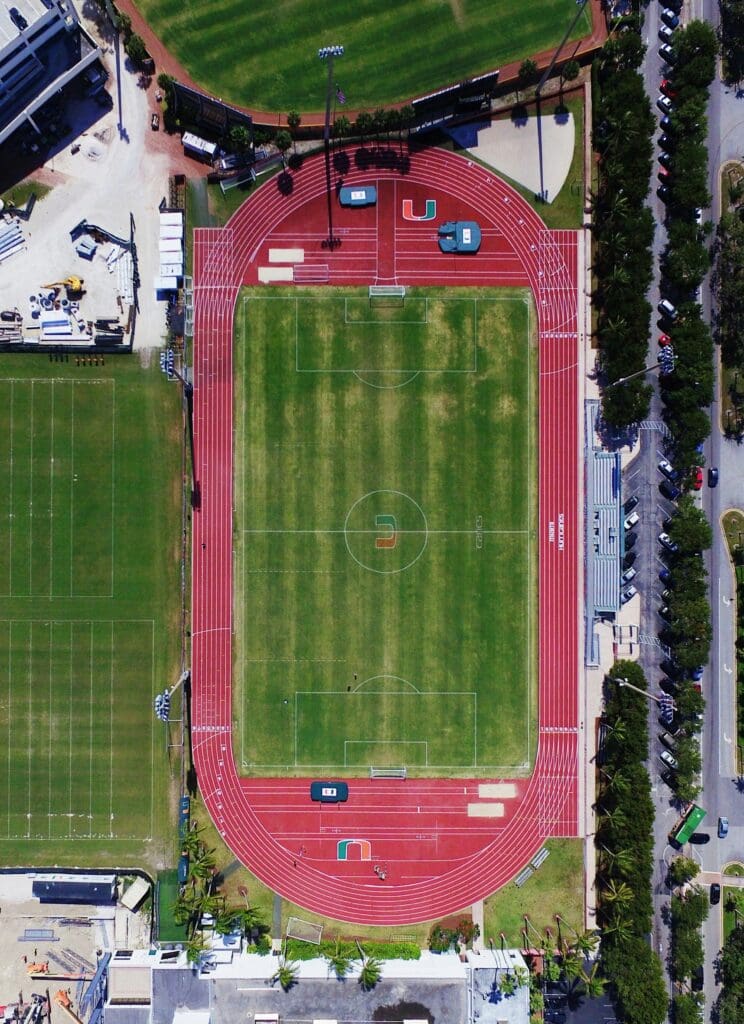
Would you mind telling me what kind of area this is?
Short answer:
sports ground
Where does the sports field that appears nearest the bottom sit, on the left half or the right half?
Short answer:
left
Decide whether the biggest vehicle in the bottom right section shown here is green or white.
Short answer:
green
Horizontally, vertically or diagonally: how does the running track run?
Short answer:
vertically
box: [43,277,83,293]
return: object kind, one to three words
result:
work vehicle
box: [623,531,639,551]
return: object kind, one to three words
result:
car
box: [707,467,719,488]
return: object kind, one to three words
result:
vehicle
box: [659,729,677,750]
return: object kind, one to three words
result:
car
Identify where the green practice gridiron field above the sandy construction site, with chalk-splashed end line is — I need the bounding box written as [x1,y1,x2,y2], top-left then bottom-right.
[0,608,182,868]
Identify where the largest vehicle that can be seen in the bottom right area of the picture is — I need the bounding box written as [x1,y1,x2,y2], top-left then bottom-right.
[668,797,707,846]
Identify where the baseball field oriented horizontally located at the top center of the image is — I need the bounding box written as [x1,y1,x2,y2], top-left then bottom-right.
[124,0,606,124]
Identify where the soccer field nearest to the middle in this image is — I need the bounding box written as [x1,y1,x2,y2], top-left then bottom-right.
[233,286,539,780]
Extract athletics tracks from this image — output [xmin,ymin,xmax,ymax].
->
[192,140,579,926]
